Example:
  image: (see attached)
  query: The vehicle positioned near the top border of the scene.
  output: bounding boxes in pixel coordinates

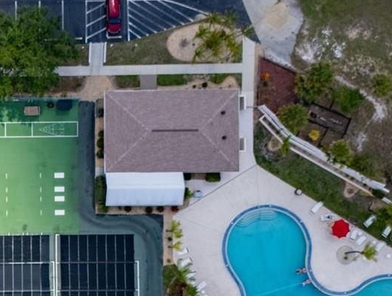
[105,0,122,37]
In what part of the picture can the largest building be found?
center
